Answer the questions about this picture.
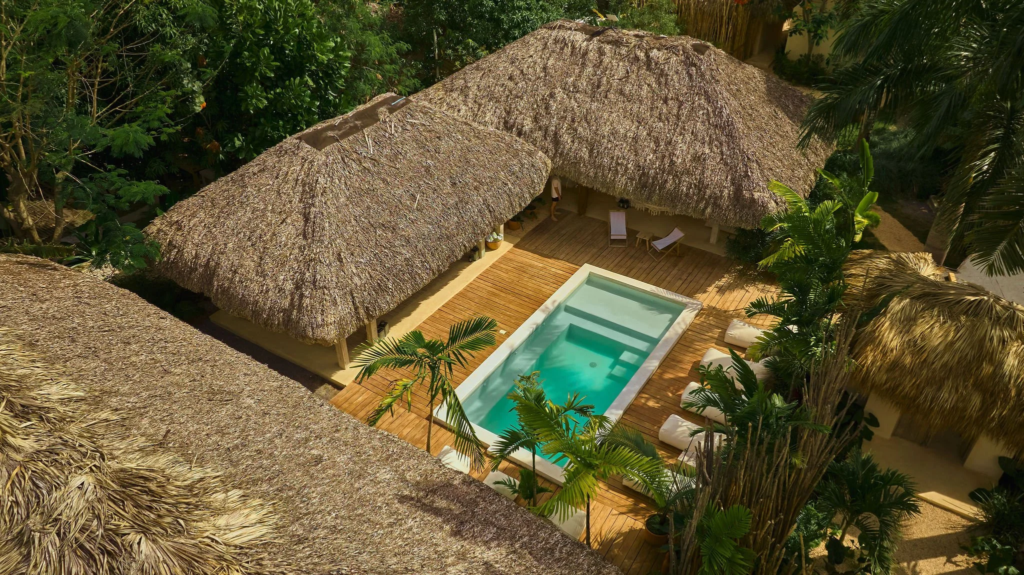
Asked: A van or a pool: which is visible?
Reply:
pool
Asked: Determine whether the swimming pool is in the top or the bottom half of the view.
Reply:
bottom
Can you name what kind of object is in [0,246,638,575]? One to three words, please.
house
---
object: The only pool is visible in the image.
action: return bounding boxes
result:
[434,263,702,491]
